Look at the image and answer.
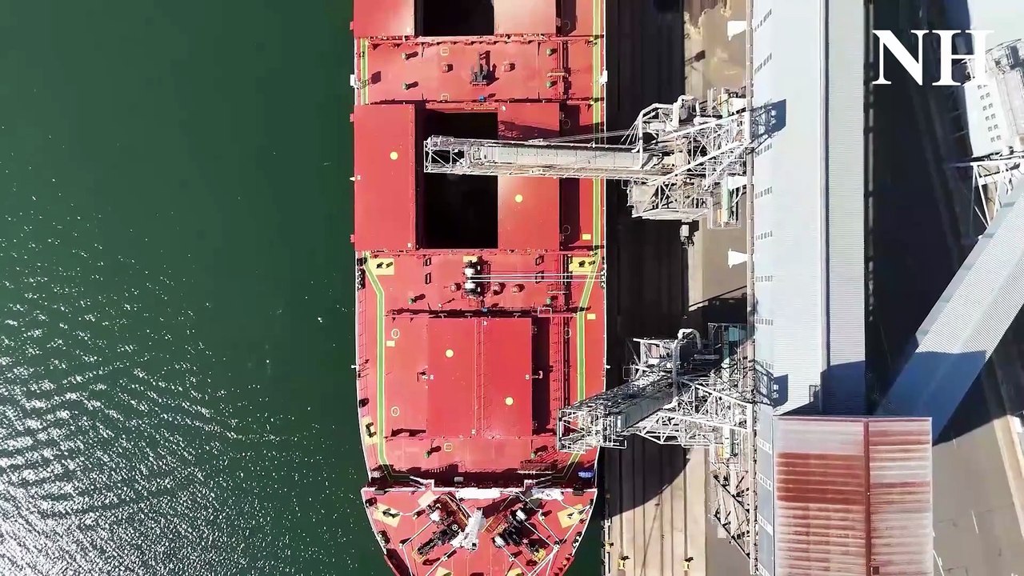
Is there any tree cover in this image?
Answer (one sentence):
No, no tree cover is visible.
